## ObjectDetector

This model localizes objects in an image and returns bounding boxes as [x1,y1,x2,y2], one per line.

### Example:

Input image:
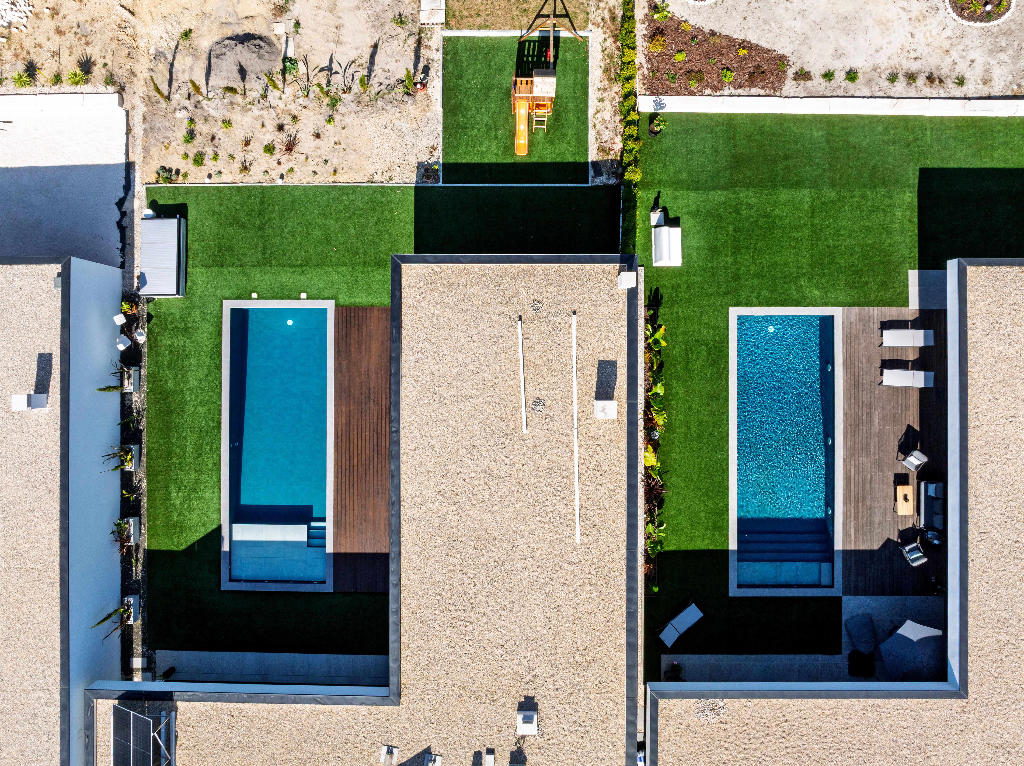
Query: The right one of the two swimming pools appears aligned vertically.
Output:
[729,307,842,596]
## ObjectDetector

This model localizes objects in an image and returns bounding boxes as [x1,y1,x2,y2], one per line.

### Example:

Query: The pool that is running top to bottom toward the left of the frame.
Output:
[222,300,334,591]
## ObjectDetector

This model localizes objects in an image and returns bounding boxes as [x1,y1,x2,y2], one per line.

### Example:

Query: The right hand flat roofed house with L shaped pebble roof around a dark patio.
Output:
[643,259,1024,766]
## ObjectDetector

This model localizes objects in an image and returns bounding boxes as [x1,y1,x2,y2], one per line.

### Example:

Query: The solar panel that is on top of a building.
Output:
[111,704,174,766]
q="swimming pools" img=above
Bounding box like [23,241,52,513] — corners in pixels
[729,307,842,596]
[222,300,334,591]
